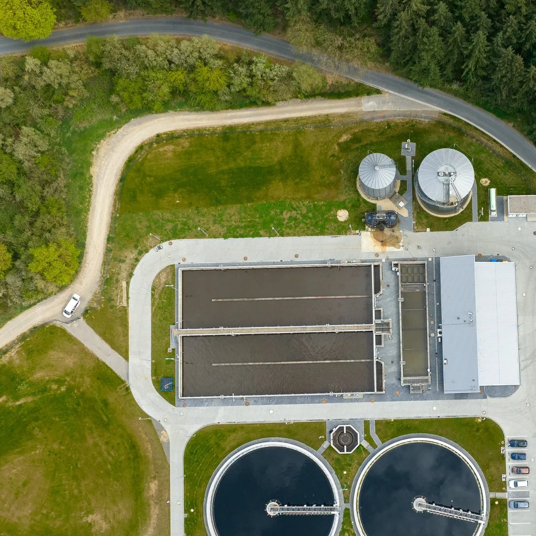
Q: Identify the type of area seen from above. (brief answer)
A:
industrial area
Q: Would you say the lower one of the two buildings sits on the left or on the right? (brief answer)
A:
right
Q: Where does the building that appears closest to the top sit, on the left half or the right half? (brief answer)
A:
right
